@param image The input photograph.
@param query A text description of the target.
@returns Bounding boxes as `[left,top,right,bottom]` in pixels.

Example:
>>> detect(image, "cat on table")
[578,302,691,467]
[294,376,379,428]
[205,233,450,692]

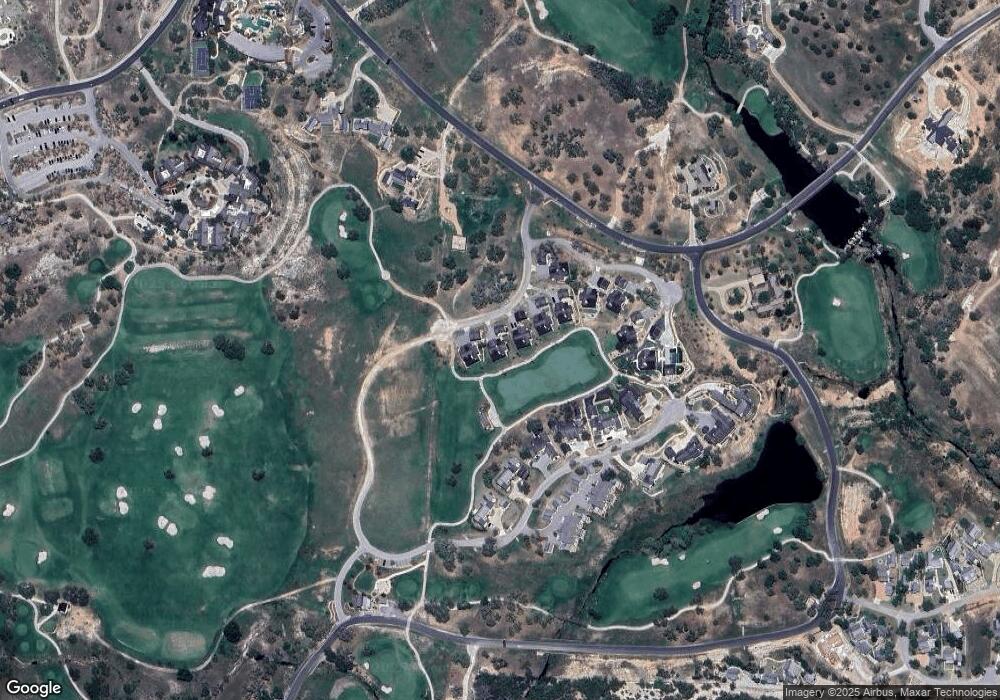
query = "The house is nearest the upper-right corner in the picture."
[925,106,958,150]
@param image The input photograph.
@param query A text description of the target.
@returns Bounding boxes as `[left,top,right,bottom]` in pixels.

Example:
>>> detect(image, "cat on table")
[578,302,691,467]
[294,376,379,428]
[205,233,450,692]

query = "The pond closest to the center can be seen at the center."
[498,347,598,412]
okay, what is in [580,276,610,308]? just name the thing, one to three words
house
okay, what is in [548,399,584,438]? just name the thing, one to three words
house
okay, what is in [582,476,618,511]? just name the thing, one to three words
building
